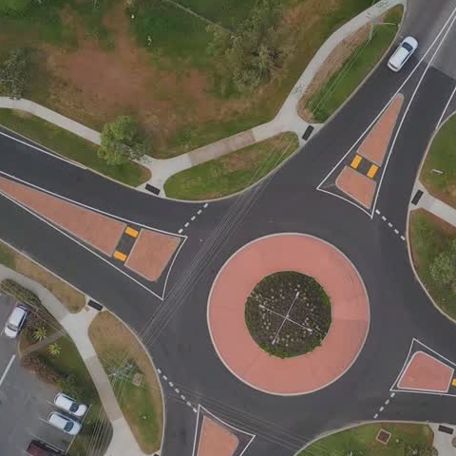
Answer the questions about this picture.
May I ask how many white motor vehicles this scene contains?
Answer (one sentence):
In total, 4 white motor vehicles can be seen.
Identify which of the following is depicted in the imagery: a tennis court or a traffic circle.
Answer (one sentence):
Visible in the photo is a traffic circle.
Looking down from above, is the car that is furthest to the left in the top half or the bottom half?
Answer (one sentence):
The car that is furthest to the left sits in the bottom half of the picture.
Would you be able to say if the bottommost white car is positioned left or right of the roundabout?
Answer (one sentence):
Relative to the roundabout, the bottommost white car is on the left.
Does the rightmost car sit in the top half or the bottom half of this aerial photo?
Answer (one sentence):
Seen from above, the rightmost car lies in the top half of the view.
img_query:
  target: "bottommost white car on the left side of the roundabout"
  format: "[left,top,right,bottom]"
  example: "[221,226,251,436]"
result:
[45,408,83,436]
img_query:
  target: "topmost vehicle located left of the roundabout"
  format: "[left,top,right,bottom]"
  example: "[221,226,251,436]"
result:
[5,303,30,340]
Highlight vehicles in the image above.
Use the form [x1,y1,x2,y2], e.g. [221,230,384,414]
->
[387,33,417,74]
[23,437,66,456]
[52,391,90,417]
[45,408,83,436]
[5,303,30,340]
